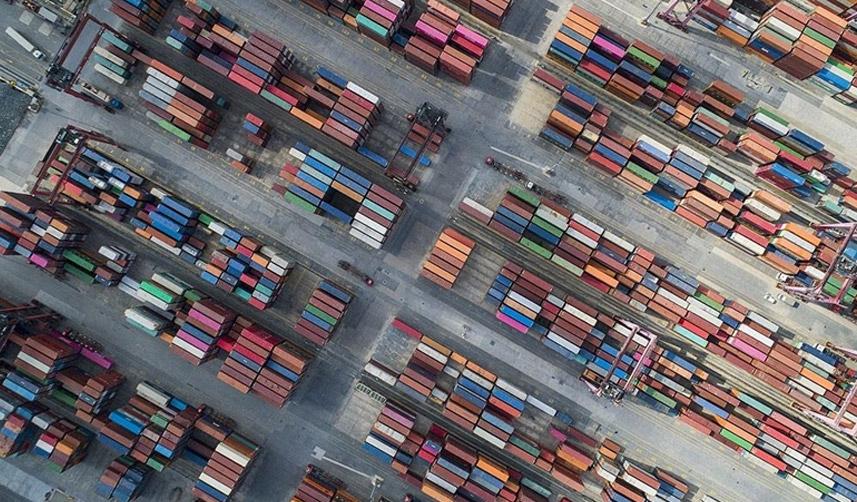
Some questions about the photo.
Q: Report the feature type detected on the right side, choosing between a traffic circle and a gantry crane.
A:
gantry crane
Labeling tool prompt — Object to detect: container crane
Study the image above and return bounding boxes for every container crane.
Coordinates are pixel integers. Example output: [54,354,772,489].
[770,218,857,308]
[0,300,64,388]
[377,105,445,201]
[787,336,857,436]
[42,8,146,114]
[575,309,664,405]
[21,123,129,218]
[655,0,716,34]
